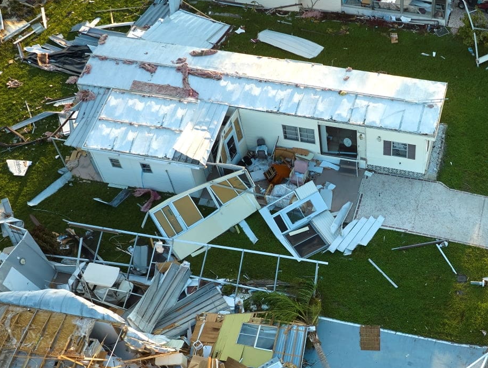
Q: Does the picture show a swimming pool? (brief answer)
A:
No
